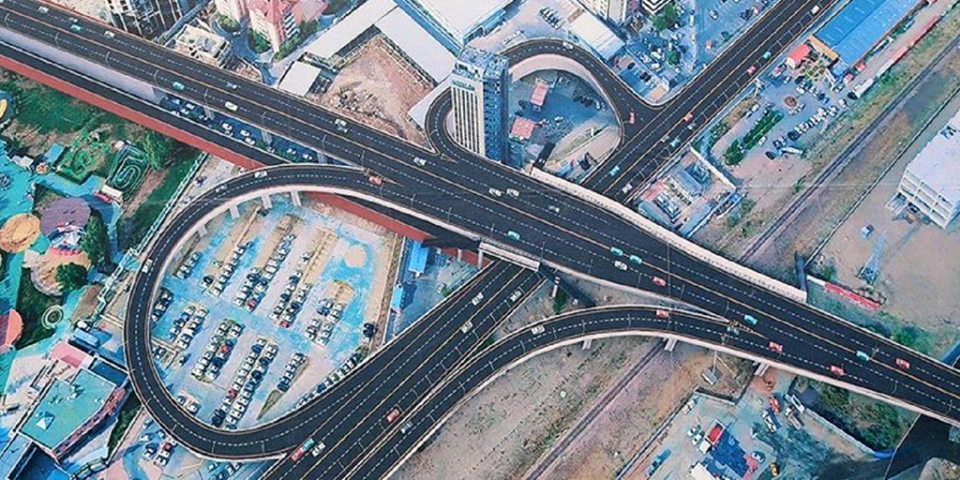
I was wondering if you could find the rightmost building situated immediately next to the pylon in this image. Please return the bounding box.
[897,111,960,235]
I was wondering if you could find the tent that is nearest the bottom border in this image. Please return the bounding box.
[0,309,24,351]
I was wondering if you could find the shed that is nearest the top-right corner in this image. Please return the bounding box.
[908,10,945,46]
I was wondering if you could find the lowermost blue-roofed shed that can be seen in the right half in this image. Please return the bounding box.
[706,431,748,480]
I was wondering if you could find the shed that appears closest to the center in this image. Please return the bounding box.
[409,240,429,279]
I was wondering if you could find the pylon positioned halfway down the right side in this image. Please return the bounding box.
[856,229,897,287]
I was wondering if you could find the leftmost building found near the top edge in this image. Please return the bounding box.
[103,0,169,38]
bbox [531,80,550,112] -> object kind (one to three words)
shed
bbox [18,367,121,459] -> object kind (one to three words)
building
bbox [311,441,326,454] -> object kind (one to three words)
vehicle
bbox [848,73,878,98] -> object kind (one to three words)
truck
